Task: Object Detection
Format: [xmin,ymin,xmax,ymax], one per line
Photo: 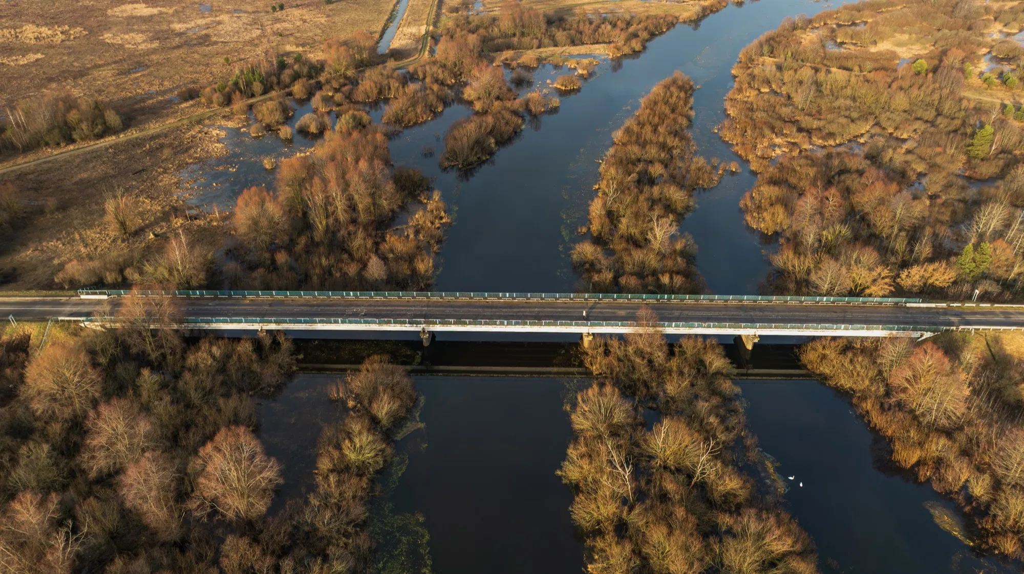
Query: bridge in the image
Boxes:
[63,294,955,351]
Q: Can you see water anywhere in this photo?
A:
Yes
